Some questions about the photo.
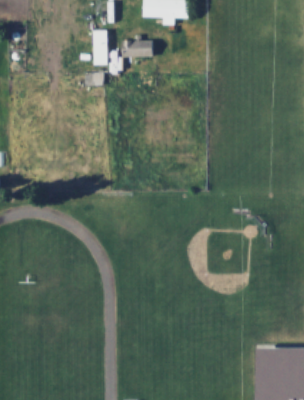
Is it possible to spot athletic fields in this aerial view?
Yes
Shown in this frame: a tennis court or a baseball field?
baseball field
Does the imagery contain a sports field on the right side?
Yes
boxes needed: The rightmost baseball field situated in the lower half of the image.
[188,224,257,294]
